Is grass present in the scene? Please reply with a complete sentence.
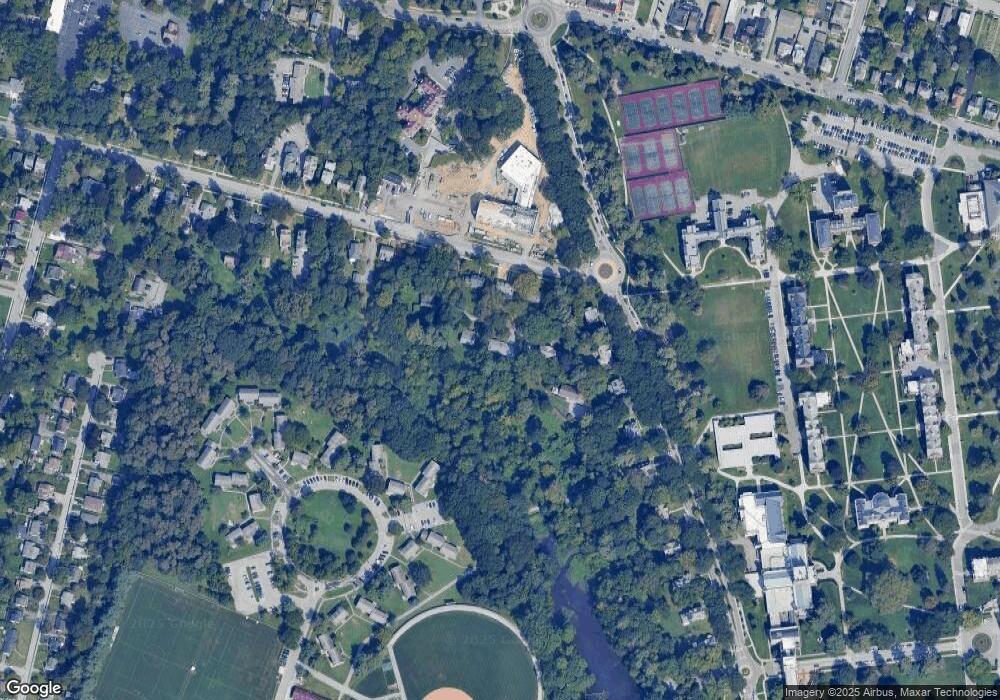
Yes, grass shows up in the scene.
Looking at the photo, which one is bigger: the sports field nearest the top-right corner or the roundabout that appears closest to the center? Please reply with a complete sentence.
The larger object is the sports field, with the roundabout being the smaller of the pair.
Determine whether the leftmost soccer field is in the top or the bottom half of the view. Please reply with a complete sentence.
The leftmost soccer field is in the bottom half of the image.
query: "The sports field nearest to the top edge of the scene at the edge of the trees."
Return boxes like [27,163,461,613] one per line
[678,113,790,197]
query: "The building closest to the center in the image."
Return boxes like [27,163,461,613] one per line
[487,337,511,355]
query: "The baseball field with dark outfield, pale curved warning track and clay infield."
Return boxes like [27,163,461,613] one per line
[387,606,542,700]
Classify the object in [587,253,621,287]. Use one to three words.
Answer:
roundabout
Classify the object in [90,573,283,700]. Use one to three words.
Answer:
soccer field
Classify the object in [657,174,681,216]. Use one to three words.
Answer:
tennis court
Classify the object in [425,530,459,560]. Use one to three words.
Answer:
house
